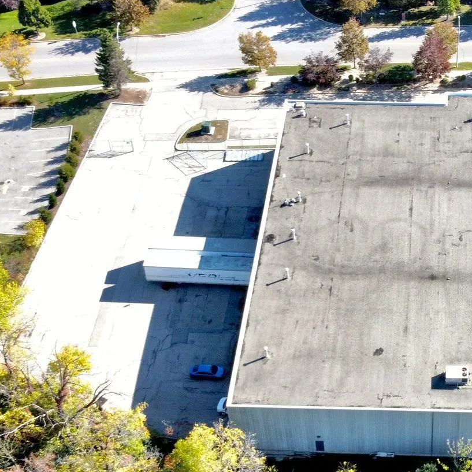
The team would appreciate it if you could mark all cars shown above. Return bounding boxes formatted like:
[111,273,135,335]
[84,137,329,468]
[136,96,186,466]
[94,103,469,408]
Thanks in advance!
[213,401,230,422]
[188,364,226,381]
